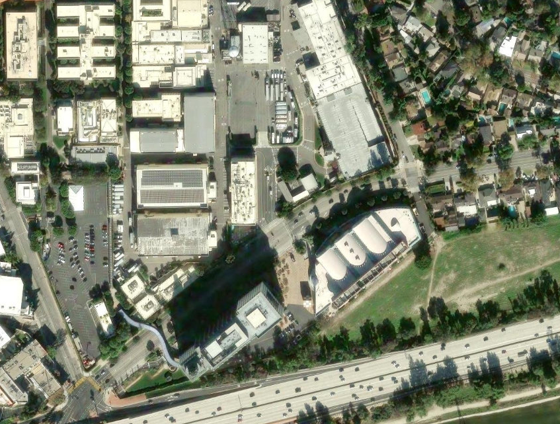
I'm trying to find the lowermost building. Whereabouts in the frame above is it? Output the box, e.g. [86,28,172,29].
[0,337,62,407]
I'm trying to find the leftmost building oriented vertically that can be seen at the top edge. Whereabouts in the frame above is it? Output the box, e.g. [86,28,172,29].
[5,11,38,79]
